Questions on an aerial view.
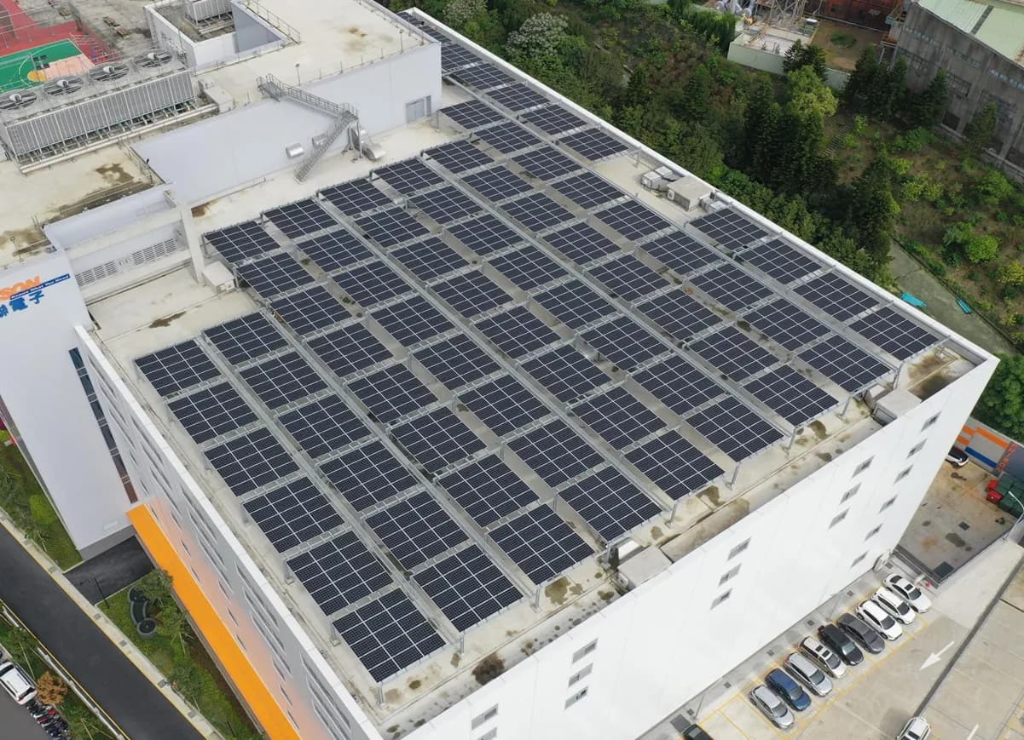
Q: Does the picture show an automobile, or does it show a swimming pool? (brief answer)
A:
automobile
